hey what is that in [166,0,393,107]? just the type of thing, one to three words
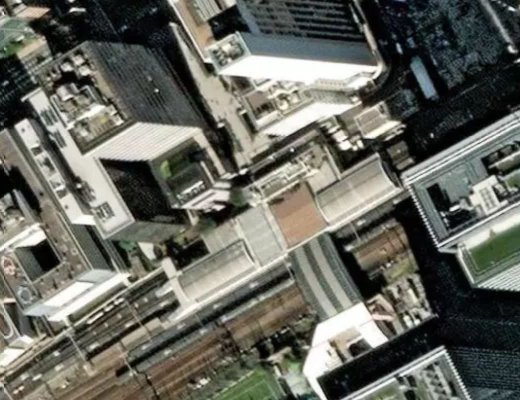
building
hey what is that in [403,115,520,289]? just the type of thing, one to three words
building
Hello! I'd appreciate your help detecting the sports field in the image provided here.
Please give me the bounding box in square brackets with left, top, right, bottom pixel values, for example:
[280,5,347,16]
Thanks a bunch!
[208,371,275,400]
